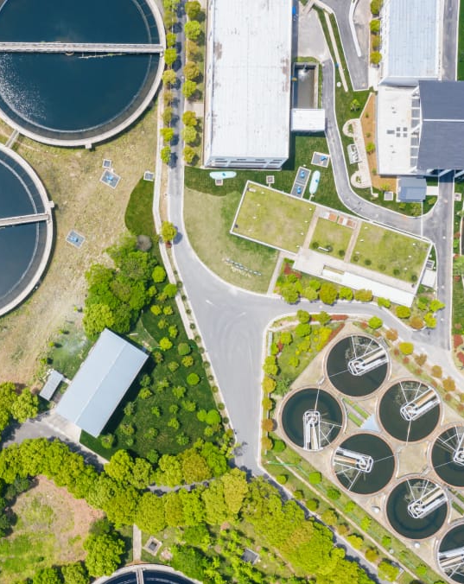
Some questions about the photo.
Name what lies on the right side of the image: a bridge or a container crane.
bridge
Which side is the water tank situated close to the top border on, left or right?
left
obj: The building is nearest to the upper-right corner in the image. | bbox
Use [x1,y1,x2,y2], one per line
[376,0,441,85]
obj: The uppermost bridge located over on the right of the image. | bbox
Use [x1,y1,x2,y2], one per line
[350,336,394,376]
